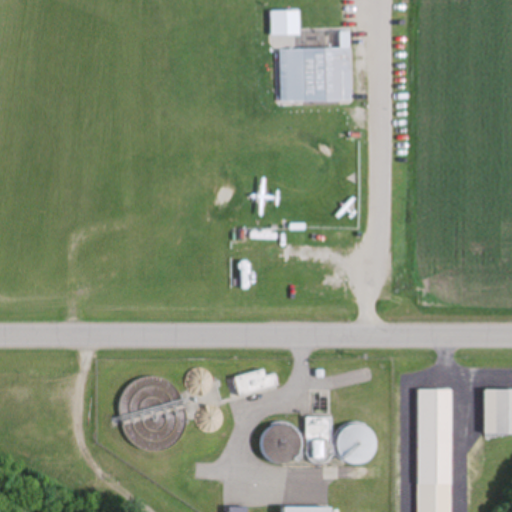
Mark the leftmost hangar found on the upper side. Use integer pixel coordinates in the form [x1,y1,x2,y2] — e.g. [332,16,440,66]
[270,8,301,35]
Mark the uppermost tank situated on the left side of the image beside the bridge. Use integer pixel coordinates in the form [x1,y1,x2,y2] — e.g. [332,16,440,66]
[184,367,213,396]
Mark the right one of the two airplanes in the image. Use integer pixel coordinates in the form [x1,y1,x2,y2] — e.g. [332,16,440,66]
[335,196,358,218]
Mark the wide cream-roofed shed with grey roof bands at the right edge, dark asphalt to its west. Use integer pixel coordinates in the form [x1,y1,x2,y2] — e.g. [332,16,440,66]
[483,389,512,436]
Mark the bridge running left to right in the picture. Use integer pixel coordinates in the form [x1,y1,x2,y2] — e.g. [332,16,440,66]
[110,400,189,430]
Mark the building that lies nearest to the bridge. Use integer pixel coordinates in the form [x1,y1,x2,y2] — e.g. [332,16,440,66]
[234,369,280,396]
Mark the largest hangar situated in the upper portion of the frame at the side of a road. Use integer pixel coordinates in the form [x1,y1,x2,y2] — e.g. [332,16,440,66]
[280,46,352,102]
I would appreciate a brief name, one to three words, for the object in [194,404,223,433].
storage tank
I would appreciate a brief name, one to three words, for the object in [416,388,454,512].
shed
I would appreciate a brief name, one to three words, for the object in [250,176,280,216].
airplane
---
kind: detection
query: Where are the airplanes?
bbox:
[335,196,358,218]
[250,176,280,216]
